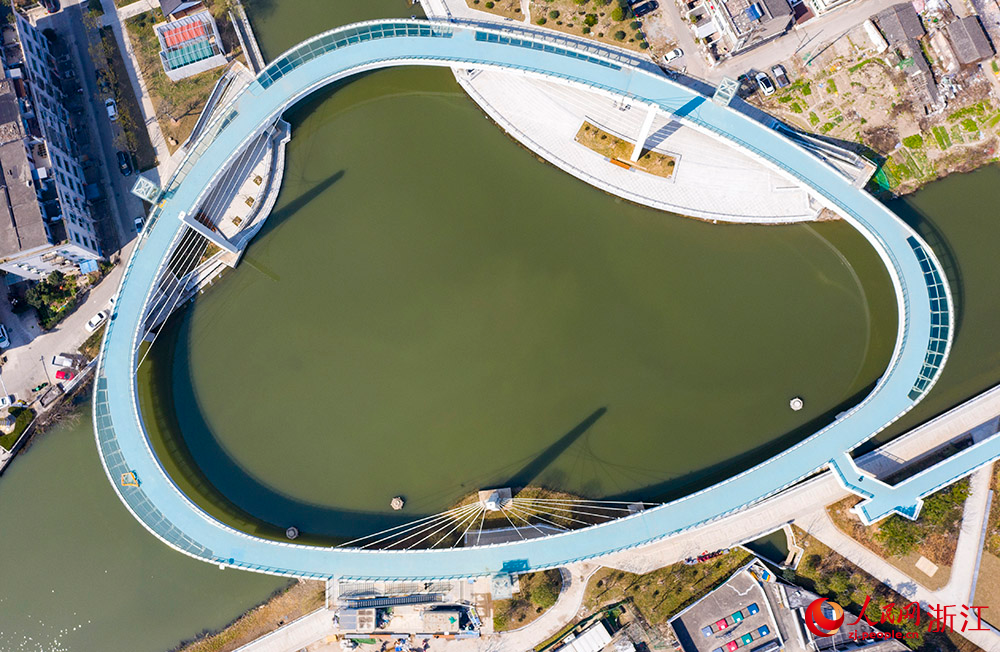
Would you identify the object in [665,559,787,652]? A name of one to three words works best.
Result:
building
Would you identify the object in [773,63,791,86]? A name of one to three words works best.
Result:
vehicle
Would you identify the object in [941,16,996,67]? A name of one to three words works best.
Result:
shed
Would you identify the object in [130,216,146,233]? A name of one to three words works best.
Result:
car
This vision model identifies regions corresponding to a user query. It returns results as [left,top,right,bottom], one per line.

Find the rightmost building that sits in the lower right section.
[777,583,905,652]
